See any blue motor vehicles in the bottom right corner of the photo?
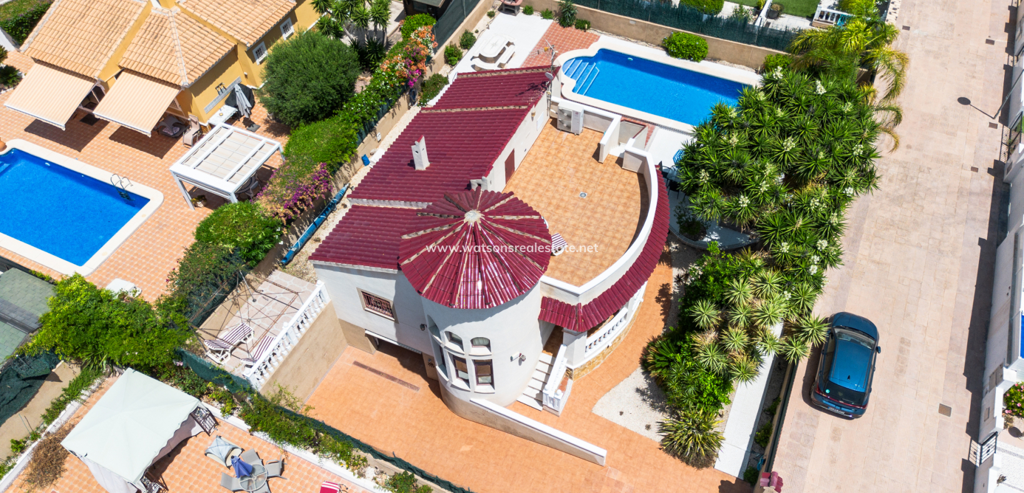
Yes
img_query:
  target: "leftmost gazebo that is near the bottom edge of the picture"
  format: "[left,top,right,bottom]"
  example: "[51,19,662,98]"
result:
[62,368,219,493]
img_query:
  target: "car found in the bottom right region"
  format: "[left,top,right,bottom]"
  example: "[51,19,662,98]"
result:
[810,314,885,425]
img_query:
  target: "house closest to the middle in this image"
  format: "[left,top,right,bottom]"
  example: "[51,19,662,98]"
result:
[302,51,670,420]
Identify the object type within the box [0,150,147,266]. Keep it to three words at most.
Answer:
swimming pool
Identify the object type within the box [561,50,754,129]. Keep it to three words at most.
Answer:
swimming pool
